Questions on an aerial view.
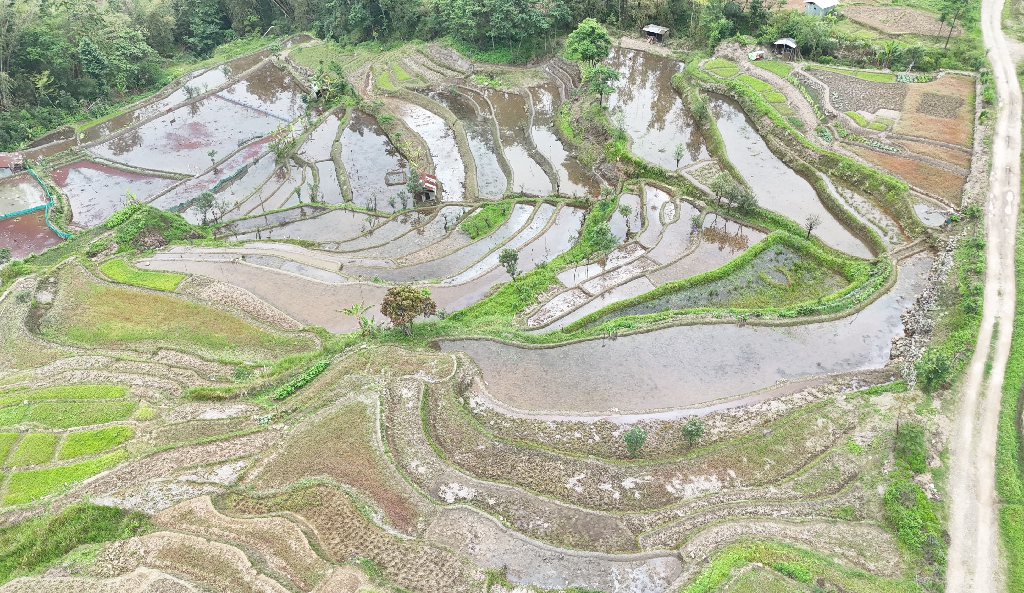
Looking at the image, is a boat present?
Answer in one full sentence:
No, no boat is visible in the view.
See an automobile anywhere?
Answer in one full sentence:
No, no automobile can be seen from above.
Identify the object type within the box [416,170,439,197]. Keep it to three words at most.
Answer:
shed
